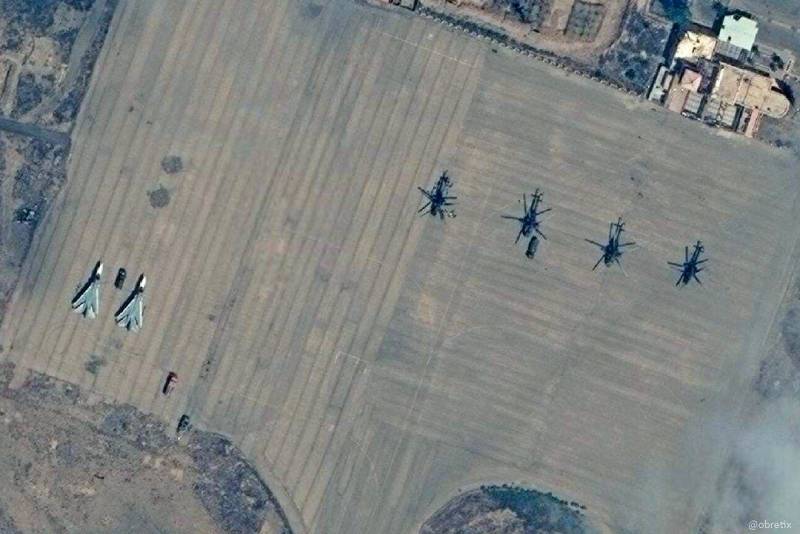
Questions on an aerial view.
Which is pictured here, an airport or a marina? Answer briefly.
airport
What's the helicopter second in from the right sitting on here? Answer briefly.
apron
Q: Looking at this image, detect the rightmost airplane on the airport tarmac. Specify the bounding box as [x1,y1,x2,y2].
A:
[116,276,145,331]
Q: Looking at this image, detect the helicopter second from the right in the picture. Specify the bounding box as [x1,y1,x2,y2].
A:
[589,222,639,278]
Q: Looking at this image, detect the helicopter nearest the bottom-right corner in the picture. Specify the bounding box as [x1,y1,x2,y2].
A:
[671,244,712,291]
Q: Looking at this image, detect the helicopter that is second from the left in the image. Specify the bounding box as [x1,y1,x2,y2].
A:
[505,193,555,249]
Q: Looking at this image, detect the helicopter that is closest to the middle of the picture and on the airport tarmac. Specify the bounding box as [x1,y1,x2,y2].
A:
[421,177,461,224]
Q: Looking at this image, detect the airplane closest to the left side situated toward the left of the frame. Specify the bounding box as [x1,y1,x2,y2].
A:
[73,264,102,319]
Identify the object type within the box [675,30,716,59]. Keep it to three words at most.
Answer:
house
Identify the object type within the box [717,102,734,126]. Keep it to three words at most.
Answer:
building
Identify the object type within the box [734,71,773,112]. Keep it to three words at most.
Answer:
building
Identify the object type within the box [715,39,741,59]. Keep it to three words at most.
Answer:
shed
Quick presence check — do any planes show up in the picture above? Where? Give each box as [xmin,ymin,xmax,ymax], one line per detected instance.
[116,276,145,331]
[73,264,102,319]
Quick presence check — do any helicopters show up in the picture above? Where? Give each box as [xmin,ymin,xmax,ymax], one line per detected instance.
[589,222,639,278]
[421,177,461,224]
[505,193,555,249]
[671,244,712,291]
